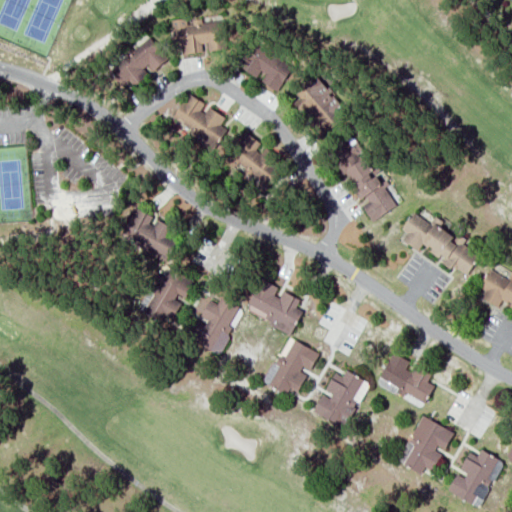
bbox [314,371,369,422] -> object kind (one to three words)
house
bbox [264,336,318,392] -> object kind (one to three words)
house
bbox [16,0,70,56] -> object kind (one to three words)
tennis court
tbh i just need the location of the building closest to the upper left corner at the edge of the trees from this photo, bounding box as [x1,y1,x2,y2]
[112,34,165,88]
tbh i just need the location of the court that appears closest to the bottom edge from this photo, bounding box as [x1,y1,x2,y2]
[0,146,34,222]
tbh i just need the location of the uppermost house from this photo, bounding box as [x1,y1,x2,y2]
[173,16,226,59]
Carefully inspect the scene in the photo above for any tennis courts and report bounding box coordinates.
[16,0,70,56]
[0,0,34,43]
[0,146,34,222]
